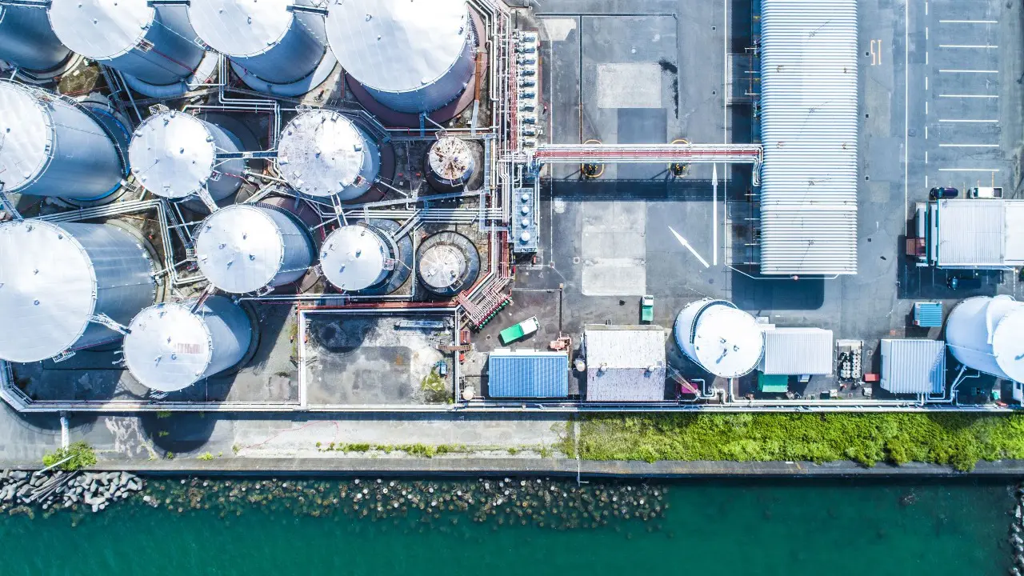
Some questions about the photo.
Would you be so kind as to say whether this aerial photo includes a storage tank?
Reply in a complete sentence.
Yes, there's a storage tank down there.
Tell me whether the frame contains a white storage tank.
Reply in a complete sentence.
Yes, the image includes a white storage tank.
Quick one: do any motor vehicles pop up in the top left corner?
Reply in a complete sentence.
No, there is no motor vehicle in the top left corner.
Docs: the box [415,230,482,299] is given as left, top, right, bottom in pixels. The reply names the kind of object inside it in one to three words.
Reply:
storage tank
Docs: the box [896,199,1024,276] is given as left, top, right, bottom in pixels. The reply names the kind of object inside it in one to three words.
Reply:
building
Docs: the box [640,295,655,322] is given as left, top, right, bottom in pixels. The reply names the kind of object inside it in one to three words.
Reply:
vehicle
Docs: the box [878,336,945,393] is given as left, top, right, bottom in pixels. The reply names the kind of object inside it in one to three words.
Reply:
shed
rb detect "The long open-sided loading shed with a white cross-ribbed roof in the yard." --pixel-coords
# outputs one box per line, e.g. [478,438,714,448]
[746,0,857,275]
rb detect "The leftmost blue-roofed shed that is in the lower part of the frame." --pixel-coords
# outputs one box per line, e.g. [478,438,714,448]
[487,349,568,398]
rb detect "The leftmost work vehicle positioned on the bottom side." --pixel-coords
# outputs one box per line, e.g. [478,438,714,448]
[431,359,452,379]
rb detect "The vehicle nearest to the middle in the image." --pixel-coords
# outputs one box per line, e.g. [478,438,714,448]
[497,315,540,346]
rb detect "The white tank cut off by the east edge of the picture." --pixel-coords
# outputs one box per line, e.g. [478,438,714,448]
[942,288,1024,389]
